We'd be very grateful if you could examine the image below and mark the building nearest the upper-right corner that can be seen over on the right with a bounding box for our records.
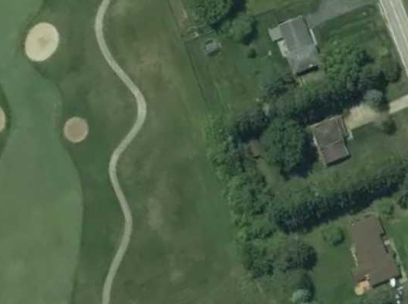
[270,17,319,74]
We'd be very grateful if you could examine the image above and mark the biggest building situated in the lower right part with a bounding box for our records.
[348,215,406,287]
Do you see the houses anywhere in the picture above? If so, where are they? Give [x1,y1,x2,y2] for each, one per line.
[348,215,406,287]
[310,116,351,164]
[270,17,319,74]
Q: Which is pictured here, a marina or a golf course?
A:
golf course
